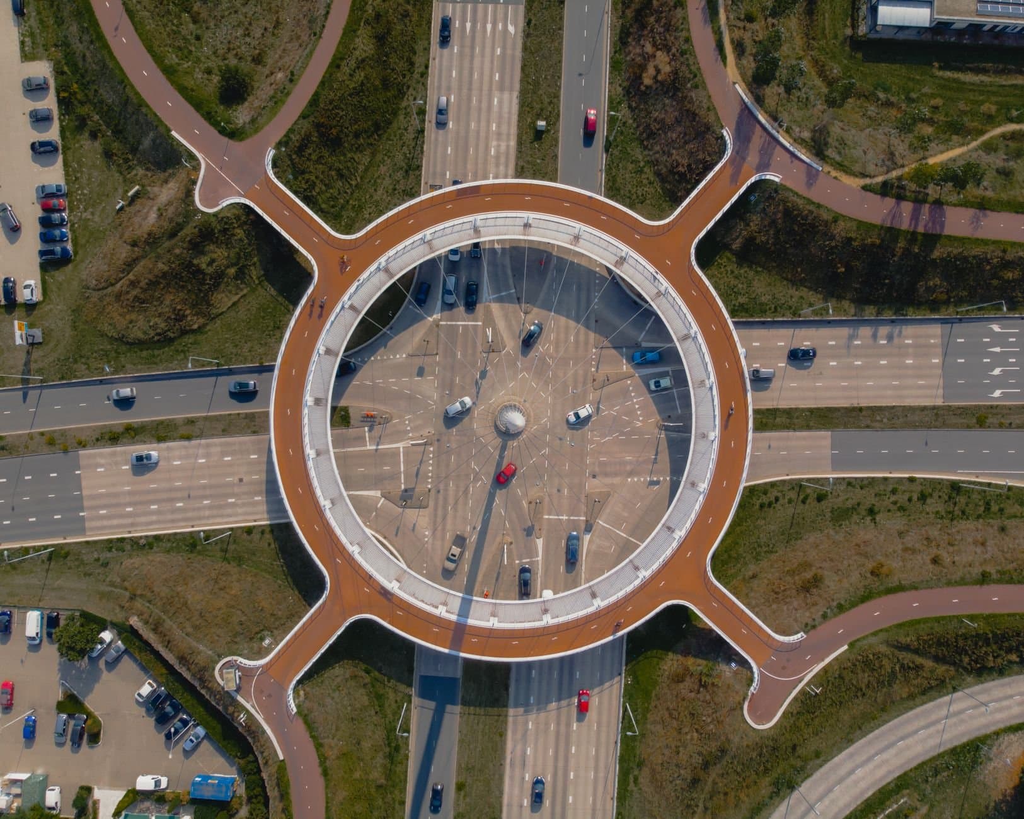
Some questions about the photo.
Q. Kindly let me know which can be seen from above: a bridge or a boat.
bridge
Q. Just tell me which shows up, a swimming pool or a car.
car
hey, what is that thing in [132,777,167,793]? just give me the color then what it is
white vehicle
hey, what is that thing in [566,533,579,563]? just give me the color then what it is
blue vehicle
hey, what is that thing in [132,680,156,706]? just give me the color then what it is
white car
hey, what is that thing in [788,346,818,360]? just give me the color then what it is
black car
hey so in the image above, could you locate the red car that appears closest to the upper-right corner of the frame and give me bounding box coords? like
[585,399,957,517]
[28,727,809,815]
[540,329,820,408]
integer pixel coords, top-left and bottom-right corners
[583,105,598,135]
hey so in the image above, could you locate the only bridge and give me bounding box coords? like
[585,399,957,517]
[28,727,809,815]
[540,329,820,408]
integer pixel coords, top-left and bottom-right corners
[224,128,805,715]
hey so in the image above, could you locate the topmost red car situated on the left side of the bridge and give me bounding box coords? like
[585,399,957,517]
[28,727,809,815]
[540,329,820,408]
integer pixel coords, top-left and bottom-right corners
[37,196,66,211]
